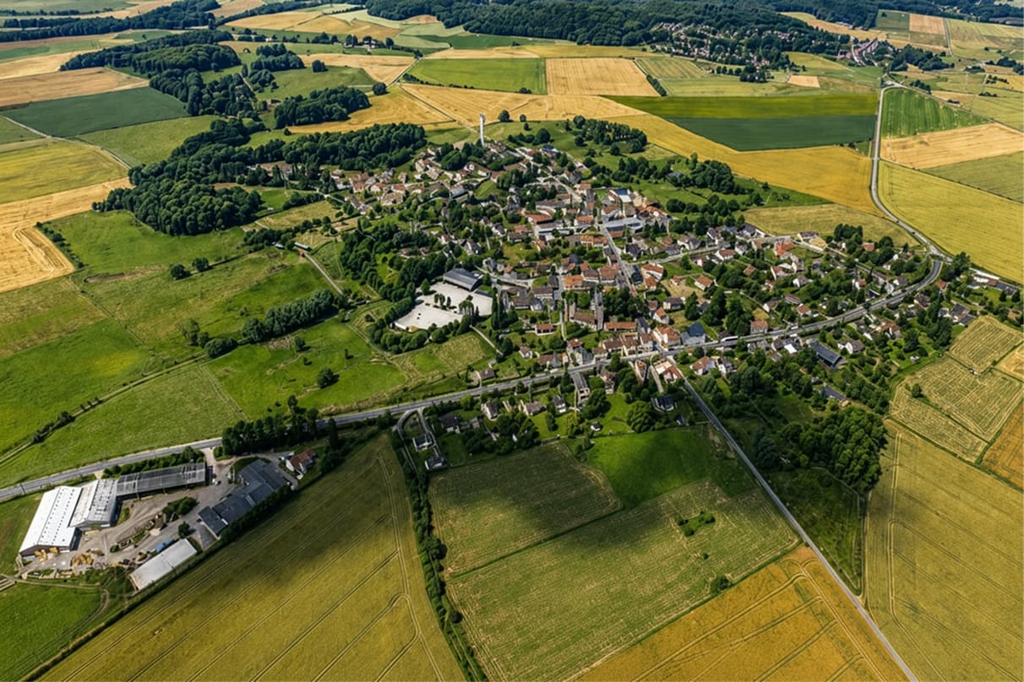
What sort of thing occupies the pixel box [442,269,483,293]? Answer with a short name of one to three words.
building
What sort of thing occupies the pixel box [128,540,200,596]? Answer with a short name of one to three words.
shed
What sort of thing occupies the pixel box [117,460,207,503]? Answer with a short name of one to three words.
barn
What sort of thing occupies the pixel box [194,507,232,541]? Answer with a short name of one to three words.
building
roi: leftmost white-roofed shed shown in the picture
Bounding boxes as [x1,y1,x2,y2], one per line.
[8,486,86,563]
